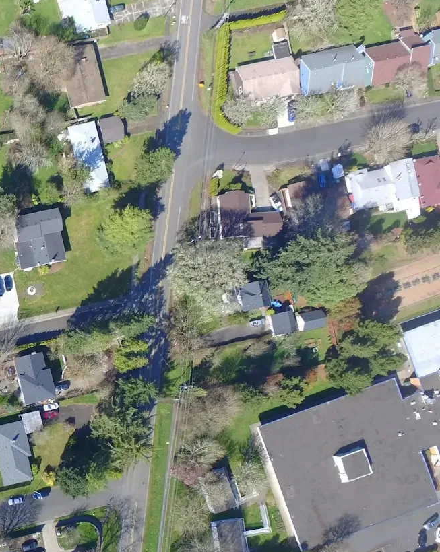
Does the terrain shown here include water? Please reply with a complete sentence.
No, water can't be seen anywhere here.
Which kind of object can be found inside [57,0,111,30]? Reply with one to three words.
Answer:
house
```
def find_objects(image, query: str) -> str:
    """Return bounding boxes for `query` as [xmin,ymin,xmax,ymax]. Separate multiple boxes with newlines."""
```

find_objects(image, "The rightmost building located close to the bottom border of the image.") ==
[251,379,440,549]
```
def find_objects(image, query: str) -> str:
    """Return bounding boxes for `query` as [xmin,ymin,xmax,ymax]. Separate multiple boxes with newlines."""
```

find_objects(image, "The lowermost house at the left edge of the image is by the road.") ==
[0,411,43,485]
